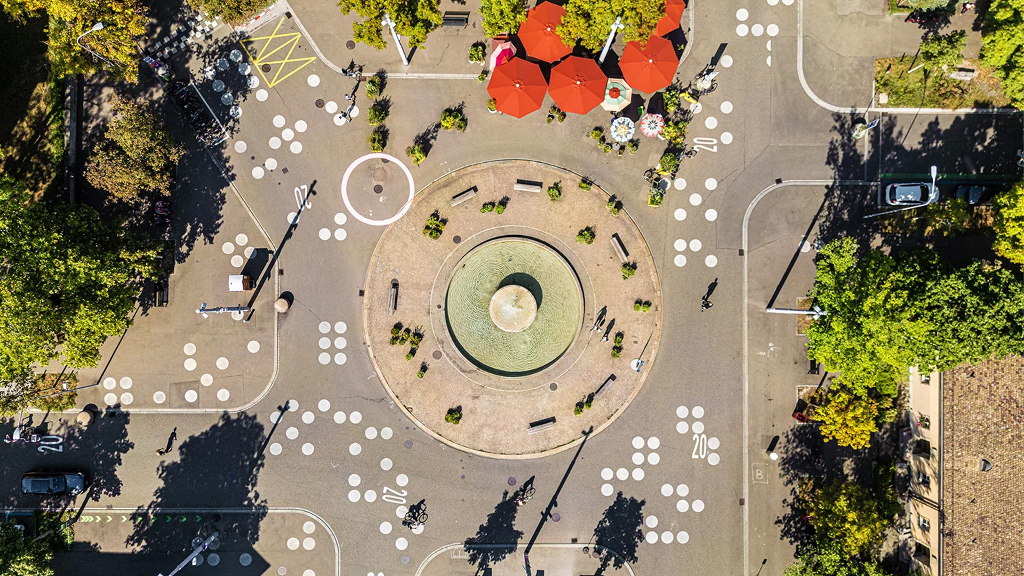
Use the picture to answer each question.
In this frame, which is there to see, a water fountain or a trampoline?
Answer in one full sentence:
Of the two, only a water fountain appears.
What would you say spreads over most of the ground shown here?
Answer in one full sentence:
The largest share of the image is taken up by paved ground.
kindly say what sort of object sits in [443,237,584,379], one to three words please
fountain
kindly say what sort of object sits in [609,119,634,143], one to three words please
umbrella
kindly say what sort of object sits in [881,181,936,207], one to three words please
car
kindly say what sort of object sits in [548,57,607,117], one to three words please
umbrella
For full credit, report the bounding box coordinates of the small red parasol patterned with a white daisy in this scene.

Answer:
[639,115,663,139]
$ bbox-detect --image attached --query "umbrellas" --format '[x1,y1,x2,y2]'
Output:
[487,43,519,71]
[548,57,607,117]
[609,119,634,143]
[602,82,631,110]
[639,115,663,139]
[618,36,679,96]
[487,58,547,119]
[638,0,689,35]
[518,3,578,63]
